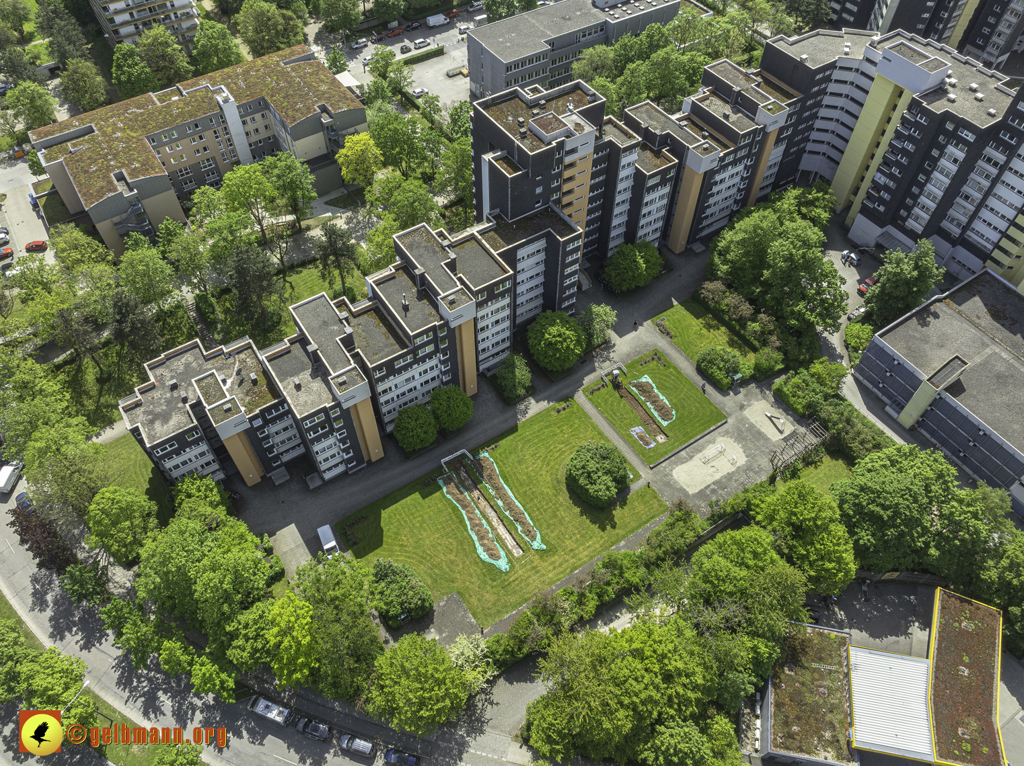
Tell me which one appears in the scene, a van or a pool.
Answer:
van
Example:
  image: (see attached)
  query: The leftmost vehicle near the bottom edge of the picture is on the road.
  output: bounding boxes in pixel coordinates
[246,699,291,734]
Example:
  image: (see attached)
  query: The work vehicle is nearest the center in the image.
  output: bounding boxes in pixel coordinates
[610,372,628,395]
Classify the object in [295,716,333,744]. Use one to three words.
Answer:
car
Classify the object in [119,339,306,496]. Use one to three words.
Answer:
building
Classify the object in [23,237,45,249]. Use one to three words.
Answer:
vehicle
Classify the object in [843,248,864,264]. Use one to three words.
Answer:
car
